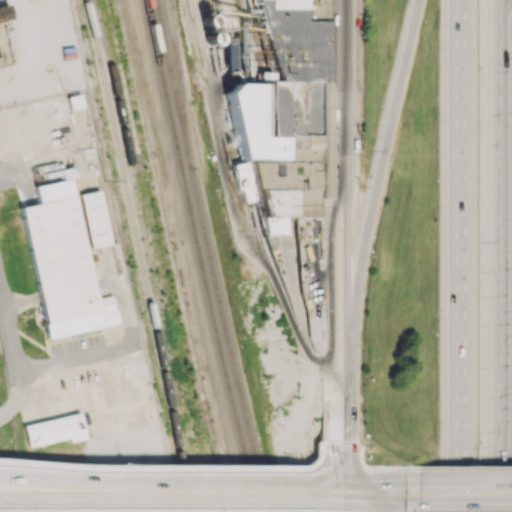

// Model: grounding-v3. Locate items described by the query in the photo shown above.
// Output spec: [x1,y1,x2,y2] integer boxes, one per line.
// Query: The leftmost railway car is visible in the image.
[82,0,98,42]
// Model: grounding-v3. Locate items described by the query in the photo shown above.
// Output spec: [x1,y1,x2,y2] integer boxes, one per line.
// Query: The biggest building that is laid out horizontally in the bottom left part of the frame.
[24,413,89,449]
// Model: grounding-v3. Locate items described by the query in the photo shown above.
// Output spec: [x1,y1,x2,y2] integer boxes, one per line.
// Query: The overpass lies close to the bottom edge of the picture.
[0,447,512,512]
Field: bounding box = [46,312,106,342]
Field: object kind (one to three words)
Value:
building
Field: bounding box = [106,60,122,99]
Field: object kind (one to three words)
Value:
rail car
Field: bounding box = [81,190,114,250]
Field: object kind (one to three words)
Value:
shed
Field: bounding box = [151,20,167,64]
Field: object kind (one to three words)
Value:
rail car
